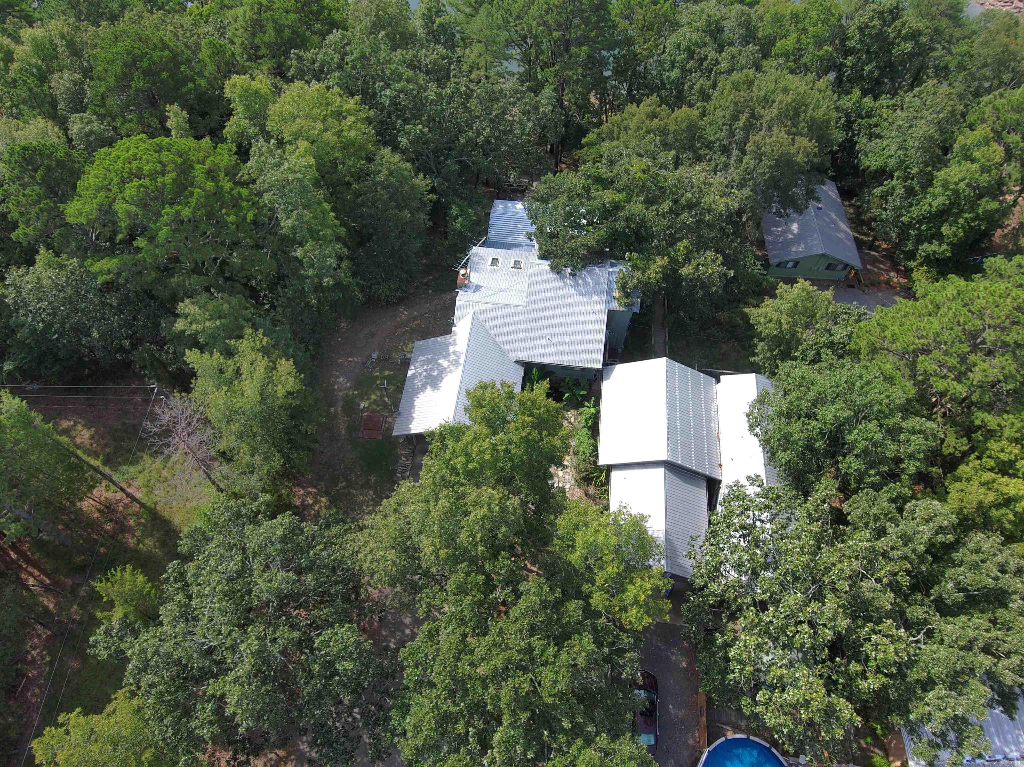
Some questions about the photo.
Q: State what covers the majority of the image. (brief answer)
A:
trees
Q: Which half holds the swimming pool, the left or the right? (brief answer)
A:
right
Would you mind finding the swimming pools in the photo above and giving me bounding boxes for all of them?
[692,734,785,767]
